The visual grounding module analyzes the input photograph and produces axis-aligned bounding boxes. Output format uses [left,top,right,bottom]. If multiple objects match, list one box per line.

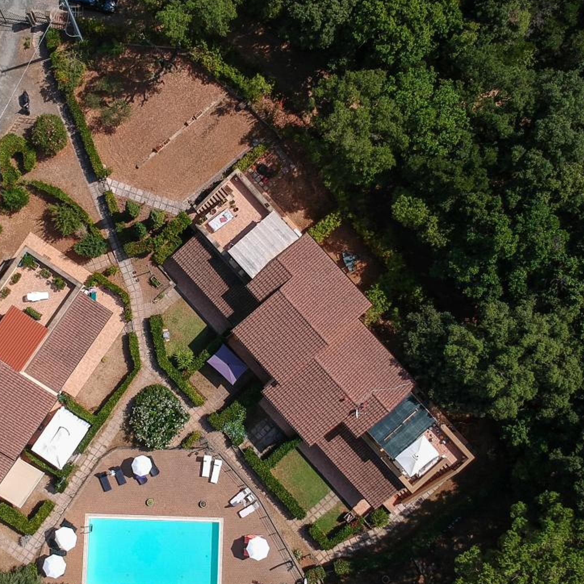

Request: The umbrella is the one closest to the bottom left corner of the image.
[41,552,65,577]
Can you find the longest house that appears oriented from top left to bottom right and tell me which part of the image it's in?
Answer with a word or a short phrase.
center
